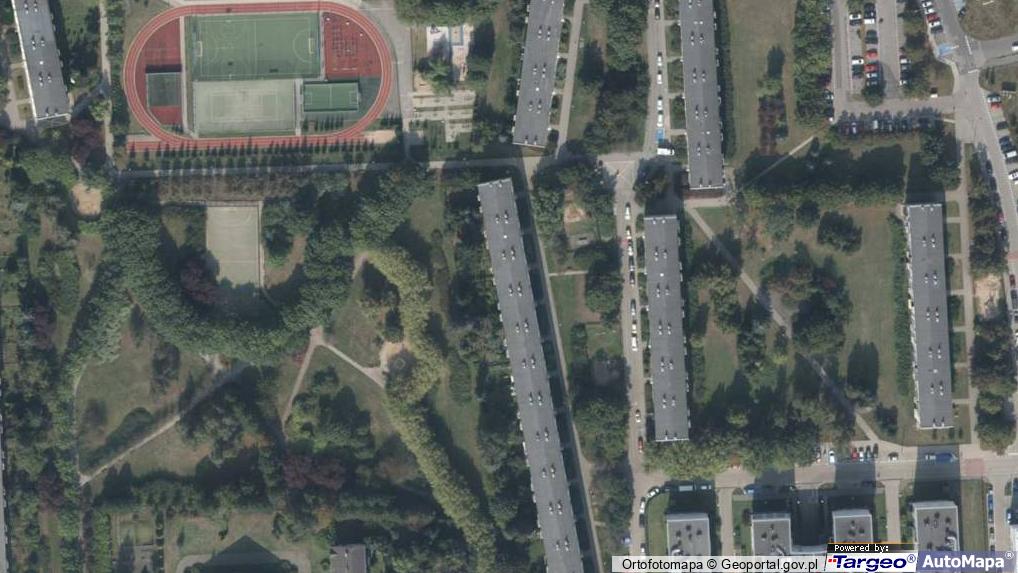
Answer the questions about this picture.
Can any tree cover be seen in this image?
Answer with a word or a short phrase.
Yes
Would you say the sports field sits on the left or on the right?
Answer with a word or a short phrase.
left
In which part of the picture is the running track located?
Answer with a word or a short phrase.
top left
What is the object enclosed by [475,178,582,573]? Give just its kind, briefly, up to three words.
building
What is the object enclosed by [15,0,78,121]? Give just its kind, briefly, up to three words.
building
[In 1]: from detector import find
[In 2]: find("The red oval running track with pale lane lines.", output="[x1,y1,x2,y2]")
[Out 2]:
[123,0,394,152]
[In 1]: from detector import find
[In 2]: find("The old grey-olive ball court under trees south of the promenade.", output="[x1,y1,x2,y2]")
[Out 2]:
[206,206,259,290]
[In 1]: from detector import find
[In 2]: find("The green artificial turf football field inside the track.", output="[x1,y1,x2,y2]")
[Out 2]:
[193,16,318,81]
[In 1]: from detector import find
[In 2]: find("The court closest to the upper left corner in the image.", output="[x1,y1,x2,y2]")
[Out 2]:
[147,76,181,106]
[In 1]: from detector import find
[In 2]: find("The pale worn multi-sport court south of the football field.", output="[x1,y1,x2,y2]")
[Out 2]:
[194,80,296,136]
